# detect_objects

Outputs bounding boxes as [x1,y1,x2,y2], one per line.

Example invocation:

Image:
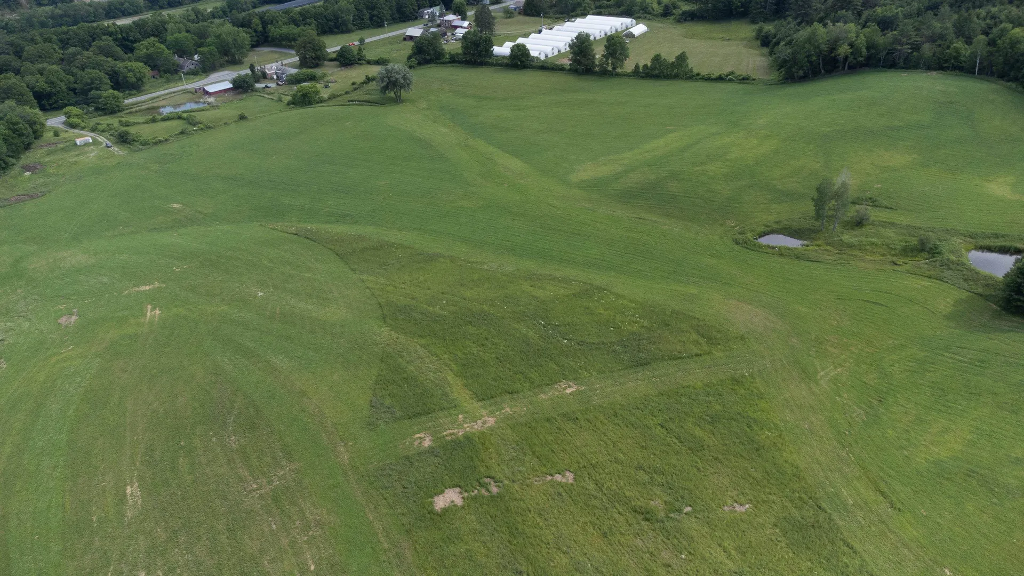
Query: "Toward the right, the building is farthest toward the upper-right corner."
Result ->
[623,22,655,38]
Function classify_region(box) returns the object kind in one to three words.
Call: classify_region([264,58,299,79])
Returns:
house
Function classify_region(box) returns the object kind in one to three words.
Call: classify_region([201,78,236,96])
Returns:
barn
